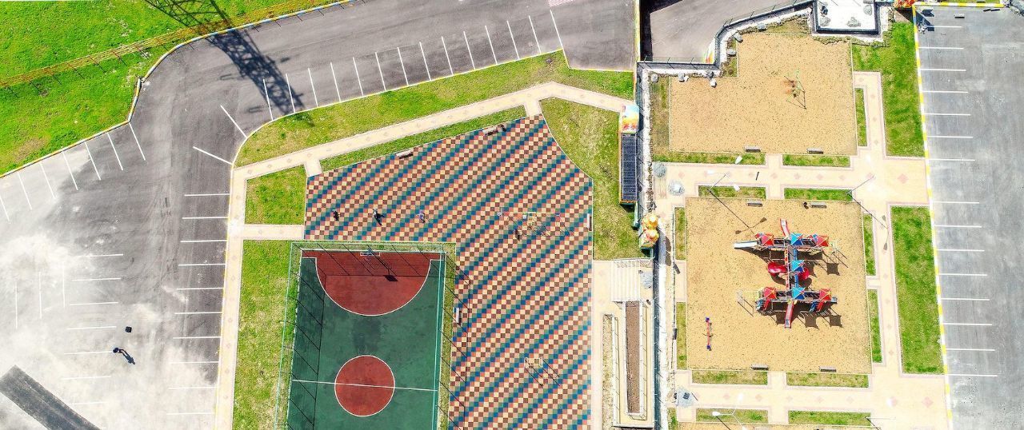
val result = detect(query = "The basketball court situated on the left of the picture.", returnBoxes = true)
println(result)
[287,249,445,430]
